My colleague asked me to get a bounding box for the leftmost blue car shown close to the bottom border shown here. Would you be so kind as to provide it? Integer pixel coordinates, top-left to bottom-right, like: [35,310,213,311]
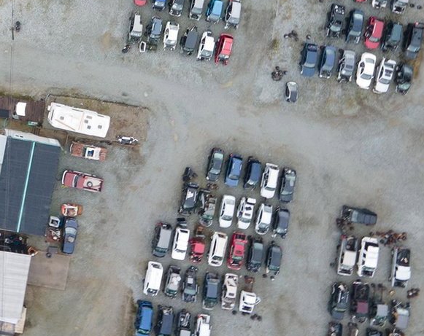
[133,297,154,336]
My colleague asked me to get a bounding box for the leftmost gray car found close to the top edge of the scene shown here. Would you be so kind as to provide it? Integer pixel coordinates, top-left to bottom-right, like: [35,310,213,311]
[125,10,145,40]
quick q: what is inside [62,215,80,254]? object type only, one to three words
car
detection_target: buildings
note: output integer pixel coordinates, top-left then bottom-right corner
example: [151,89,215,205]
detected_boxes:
[0,244,31,325]
[0,129,60,236]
